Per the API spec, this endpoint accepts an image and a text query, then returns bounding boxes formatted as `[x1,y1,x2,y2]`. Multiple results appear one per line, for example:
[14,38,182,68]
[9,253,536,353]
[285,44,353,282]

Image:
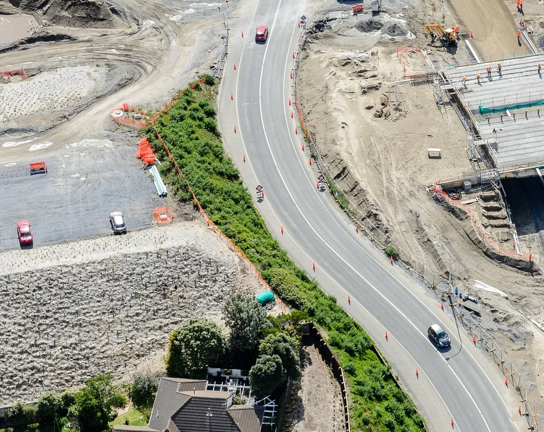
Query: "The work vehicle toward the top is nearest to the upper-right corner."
[421,19,461,47]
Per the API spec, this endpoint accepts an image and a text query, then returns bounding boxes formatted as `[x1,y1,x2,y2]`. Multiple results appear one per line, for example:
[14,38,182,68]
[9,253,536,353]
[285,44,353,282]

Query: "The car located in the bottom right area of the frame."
[427,322,453,347]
